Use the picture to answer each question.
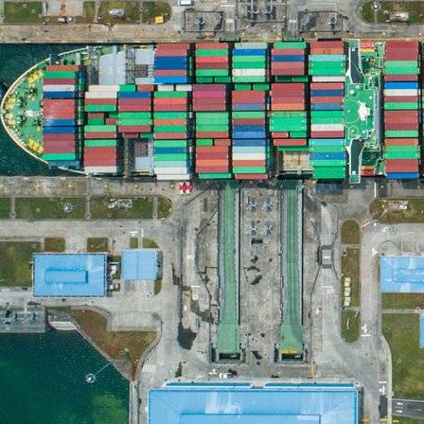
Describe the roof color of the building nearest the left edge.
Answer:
blue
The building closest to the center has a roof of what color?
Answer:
blue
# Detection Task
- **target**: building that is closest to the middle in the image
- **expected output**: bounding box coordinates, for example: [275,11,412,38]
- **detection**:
[121,250,160,281]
